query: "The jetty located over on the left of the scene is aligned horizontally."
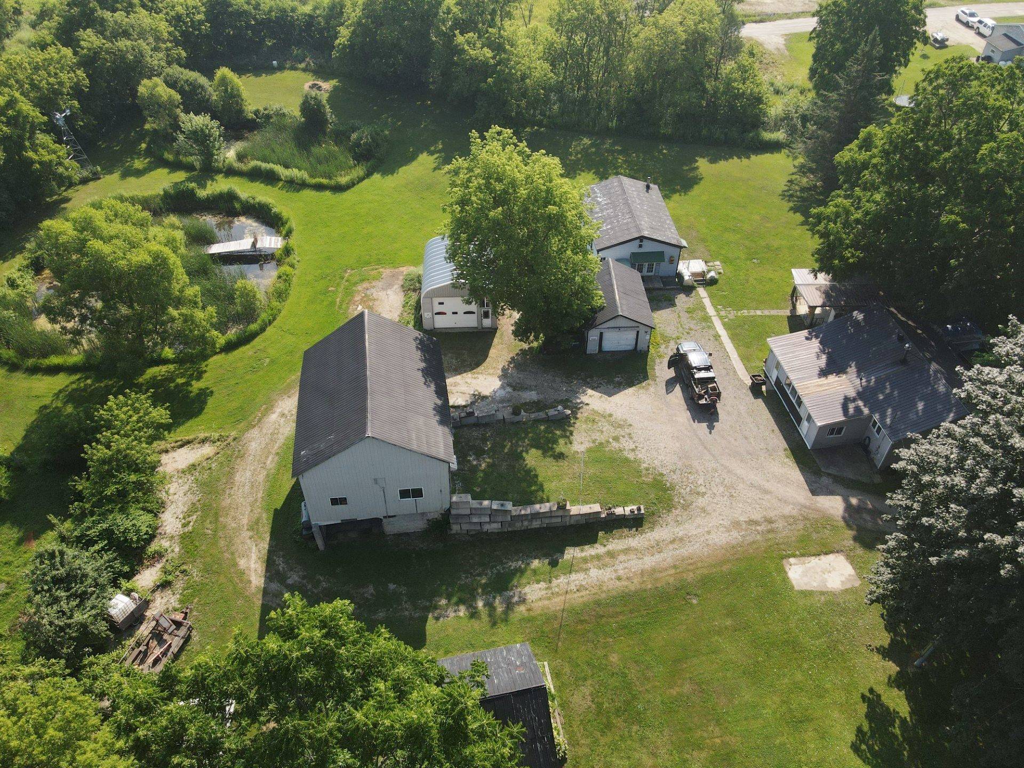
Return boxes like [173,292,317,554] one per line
[206,238,284,255]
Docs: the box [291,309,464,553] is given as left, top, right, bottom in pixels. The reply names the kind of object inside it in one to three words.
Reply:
barn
